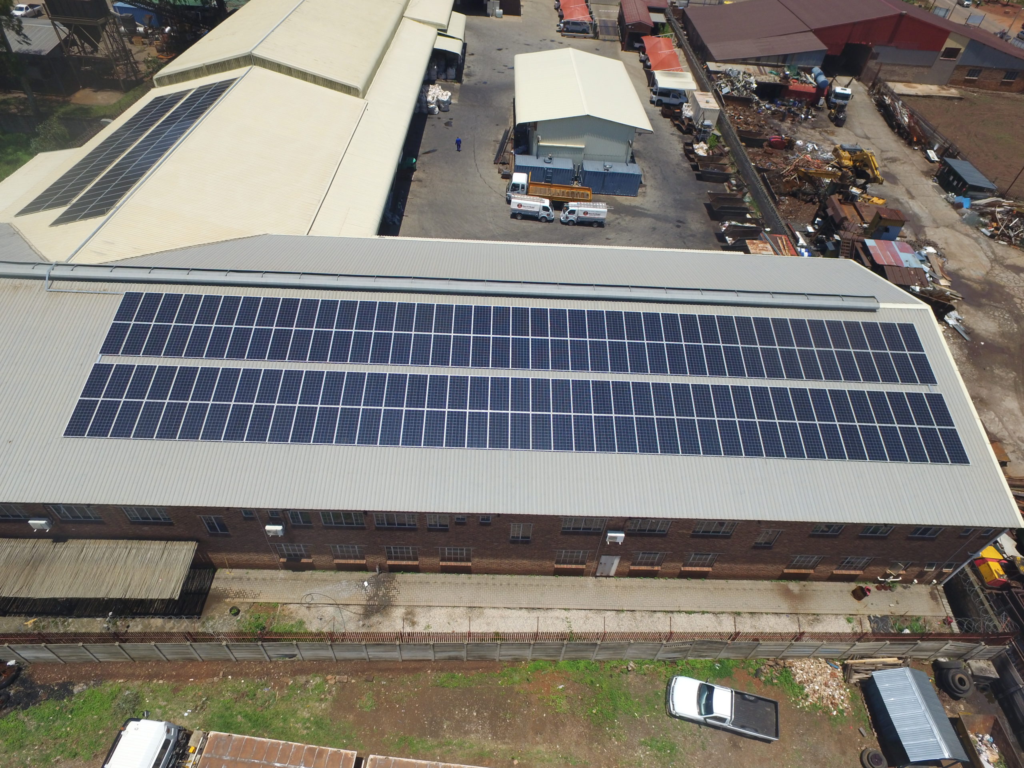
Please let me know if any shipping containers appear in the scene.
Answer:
Yes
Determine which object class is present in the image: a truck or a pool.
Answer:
truck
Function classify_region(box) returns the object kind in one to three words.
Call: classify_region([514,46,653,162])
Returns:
building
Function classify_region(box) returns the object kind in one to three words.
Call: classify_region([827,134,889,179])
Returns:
work vehicle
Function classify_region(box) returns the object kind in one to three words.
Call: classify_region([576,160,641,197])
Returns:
shipping container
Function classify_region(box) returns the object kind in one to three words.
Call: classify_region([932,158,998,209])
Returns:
shed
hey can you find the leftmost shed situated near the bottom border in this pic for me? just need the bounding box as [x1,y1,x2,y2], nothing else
[854,666,968,768]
